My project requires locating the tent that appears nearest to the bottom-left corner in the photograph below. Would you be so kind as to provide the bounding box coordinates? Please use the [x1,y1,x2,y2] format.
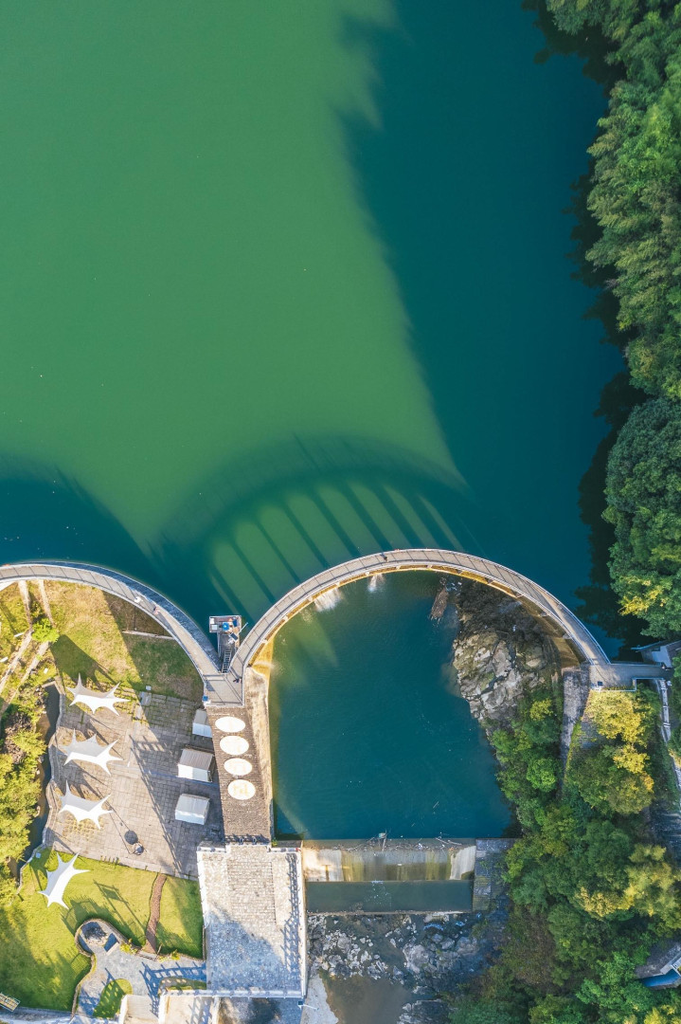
[37,845,93,909]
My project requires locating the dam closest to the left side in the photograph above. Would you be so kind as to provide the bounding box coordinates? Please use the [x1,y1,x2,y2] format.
[0,559,220,676]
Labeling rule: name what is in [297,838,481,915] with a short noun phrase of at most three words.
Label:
dam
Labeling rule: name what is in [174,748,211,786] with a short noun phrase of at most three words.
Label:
shed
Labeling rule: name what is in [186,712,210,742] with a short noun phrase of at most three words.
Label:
shed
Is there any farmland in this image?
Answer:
No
